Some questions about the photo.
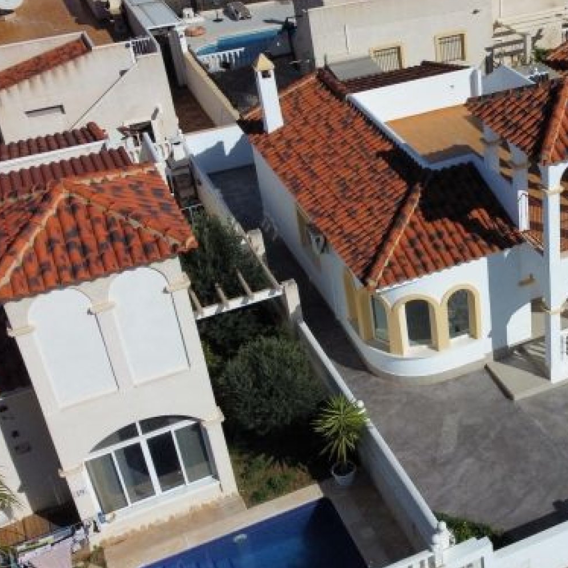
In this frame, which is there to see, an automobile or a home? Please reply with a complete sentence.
I can see a home in this picture.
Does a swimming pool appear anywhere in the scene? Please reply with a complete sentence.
Yes, a swimming pool can be made out from above.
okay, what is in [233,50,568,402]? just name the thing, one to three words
house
